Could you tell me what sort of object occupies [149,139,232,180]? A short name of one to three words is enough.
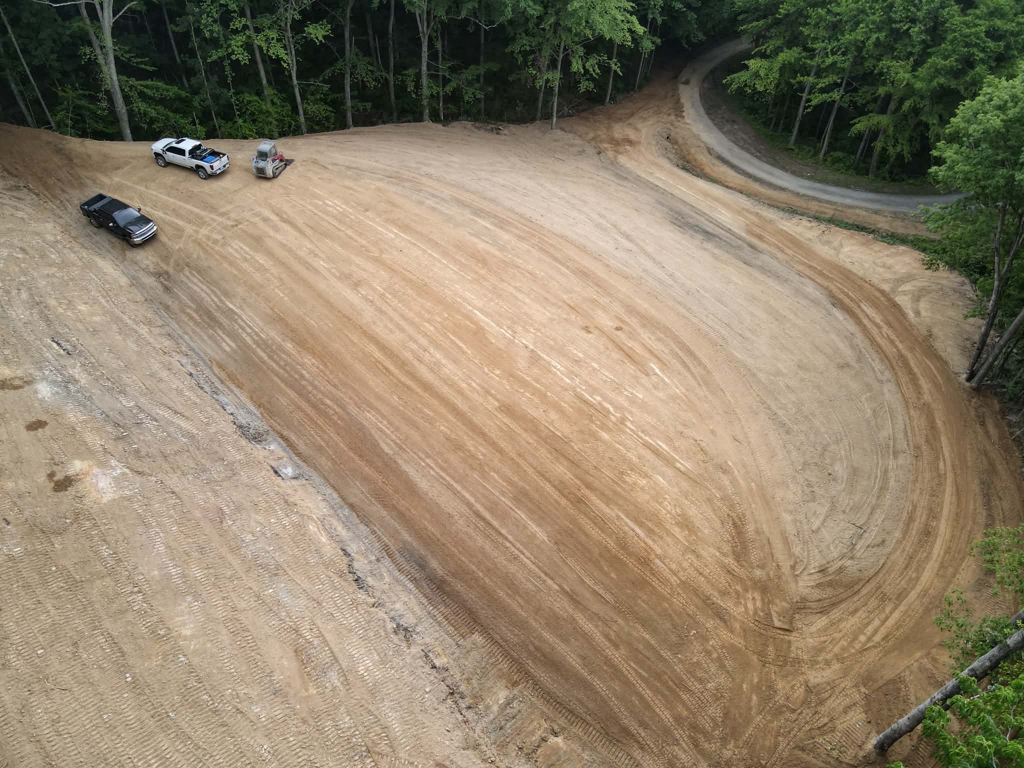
truck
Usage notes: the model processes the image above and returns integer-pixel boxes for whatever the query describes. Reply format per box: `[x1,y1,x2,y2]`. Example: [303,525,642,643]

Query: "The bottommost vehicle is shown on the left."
[81,195,162,248]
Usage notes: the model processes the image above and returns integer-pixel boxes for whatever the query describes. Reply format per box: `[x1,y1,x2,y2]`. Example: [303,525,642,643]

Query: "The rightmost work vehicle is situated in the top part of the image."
[250,140,293,178]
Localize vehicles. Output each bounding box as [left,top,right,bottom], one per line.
[149,139,232,180]
[81,195,162,248]
[250,140,293,178]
